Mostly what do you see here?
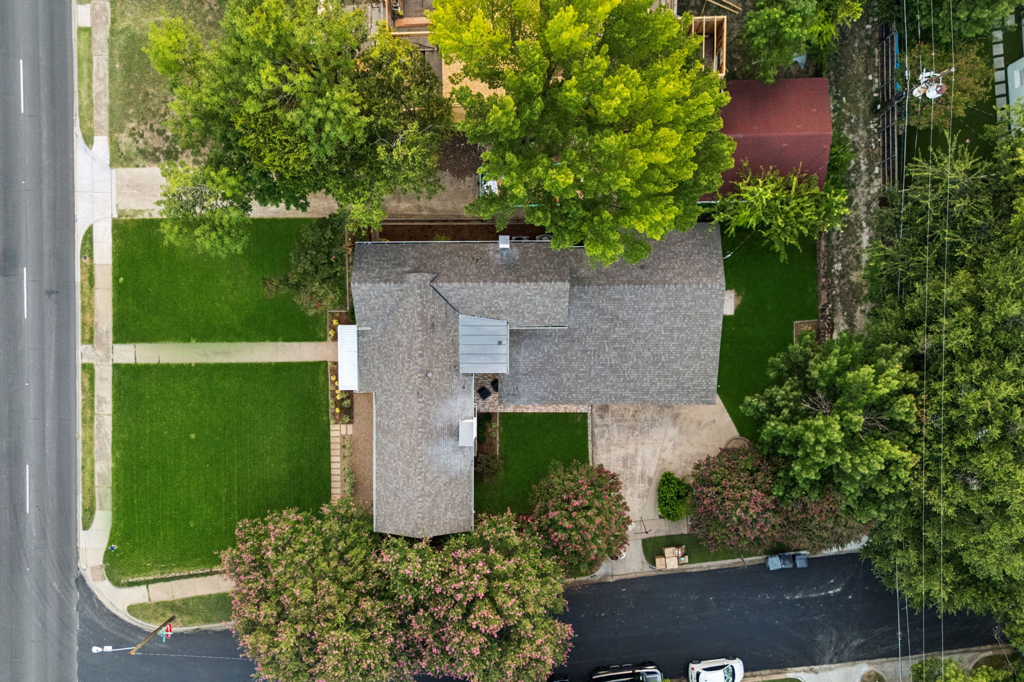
trees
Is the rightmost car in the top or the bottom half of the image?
bottom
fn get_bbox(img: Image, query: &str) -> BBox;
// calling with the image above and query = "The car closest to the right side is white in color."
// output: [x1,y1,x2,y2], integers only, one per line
[688,657,745,682]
